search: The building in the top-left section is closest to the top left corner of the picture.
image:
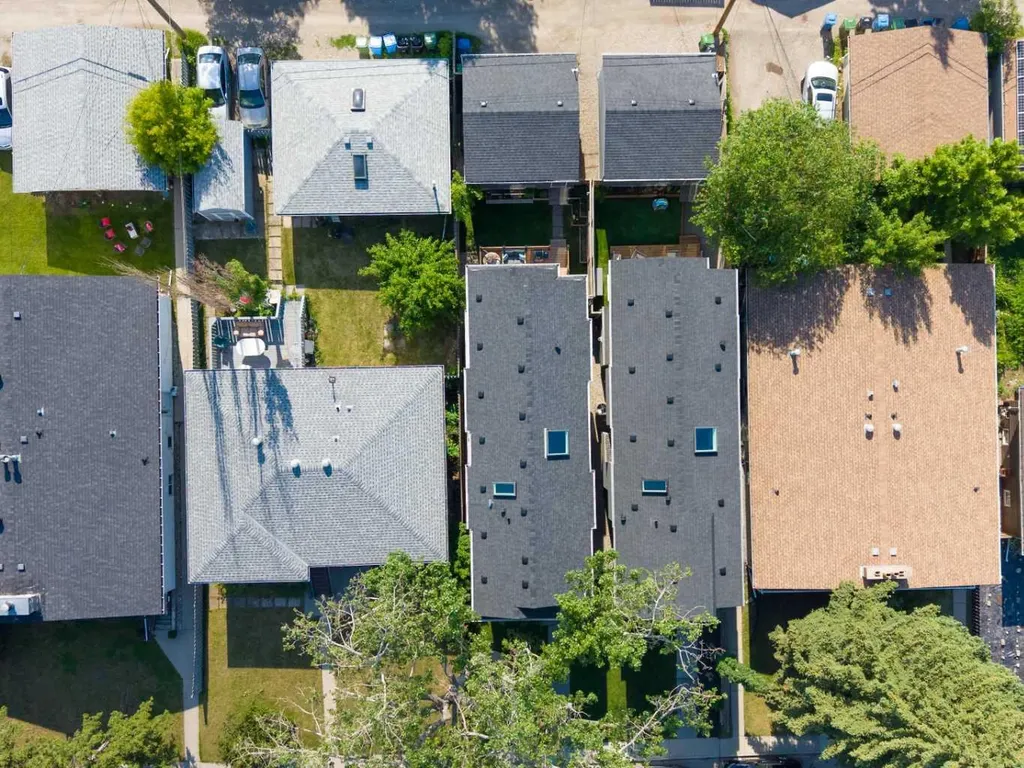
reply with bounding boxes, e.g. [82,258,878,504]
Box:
[11,25,176,194]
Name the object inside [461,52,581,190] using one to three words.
building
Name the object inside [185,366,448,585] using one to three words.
house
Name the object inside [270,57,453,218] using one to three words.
building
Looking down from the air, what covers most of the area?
buildings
